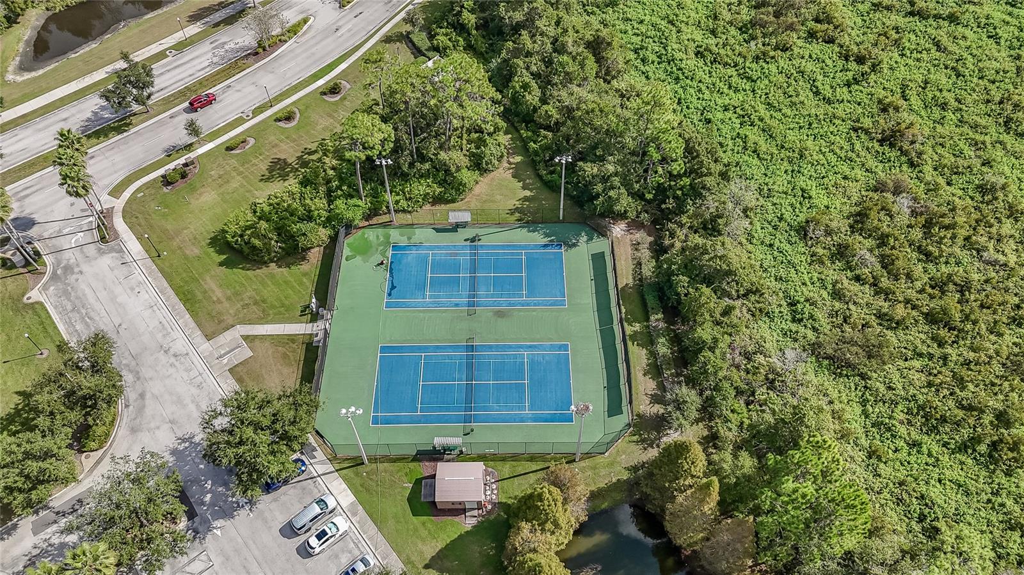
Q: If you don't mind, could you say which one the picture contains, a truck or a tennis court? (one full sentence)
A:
Looking from above, you can make out a tennis court.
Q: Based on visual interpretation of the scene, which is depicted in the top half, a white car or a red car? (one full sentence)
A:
Visible in the top half is a red car.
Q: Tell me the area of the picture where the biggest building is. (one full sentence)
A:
The biggest building sits in the bottom section of the image.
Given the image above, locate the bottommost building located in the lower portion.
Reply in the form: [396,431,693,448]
[426,462,485,529]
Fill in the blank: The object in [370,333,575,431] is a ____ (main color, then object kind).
blue tennis court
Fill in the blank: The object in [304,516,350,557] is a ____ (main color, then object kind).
white car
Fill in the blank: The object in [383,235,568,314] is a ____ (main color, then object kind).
blue tennis court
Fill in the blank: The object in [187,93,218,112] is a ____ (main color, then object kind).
red car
